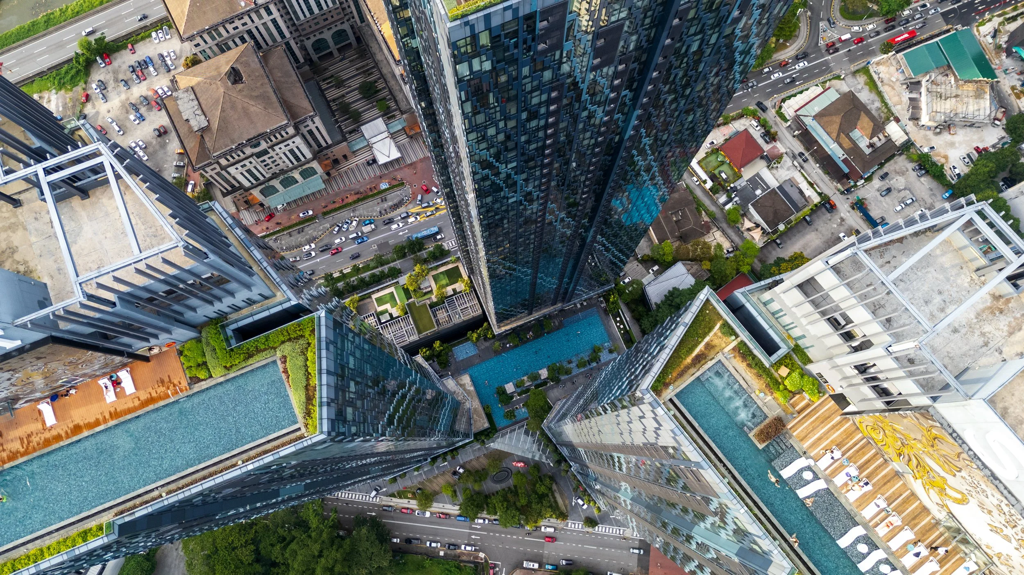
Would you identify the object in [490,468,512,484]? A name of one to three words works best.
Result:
fountain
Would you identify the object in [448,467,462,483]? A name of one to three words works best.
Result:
vehicle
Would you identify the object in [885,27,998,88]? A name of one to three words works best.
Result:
shed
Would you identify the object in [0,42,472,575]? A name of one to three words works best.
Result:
building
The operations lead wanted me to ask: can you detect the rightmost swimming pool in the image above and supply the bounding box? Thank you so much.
[675,360,860,575]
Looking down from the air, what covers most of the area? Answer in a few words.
buildings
